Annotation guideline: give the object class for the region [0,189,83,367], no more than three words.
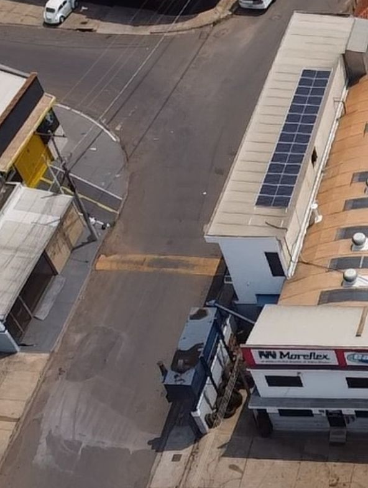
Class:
shed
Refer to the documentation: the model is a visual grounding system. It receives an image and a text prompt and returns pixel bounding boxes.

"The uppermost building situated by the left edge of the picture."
[0,68,93,220]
